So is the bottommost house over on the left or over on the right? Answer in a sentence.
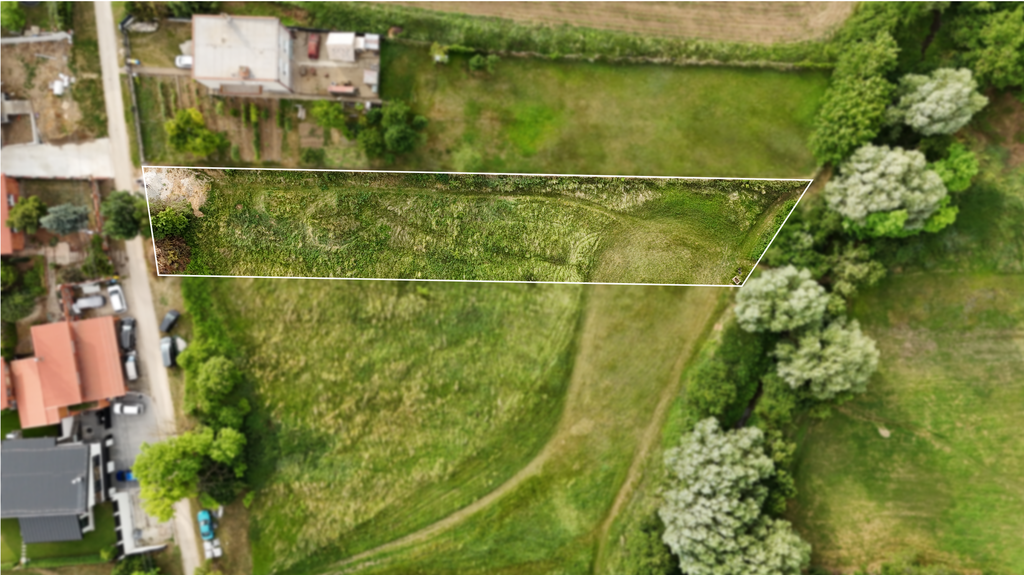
The bottommost house appears in the left half of the scene.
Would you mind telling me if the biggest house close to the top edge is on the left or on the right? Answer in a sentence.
You can find the biggest house close to the top edge on the left side of the picture.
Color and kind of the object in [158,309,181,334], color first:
gray car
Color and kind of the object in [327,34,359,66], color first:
white gazebo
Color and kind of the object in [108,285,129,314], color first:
white car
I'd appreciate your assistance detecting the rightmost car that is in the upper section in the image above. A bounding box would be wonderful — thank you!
[307,33,322,61]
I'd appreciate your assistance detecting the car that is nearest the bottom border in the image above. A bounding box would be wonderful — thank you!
[197,509,215,541]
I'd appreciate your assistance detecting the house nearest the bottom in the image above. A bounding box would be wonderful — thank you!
[0,432,112,518]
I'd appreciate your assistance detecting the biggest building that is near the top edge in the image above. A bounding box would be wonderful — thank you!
[192,11,294,100]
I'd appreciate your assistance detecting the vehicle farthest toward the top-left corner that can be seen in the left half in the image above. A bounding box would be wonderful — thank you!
[175,55,193,69]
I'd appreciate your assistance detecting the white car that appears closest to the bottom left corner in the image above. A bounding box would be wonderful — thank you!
[115,402,147,416]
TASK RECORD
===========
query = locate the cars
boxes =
[158,309,181,334]
[77,296,107,310]
[307,33,322,61]
[120,317,137,349]
[197,509,215,541]
[115,402,147,416]
[175,55,193,69]
[108,285,129,314]
[117,469,134,483]
[124,351,141,380]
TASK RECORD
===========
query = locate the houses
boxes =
[0,432,112,518]
[11,315,134,428]
[192,11,294,100]
[0,173,24,254]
